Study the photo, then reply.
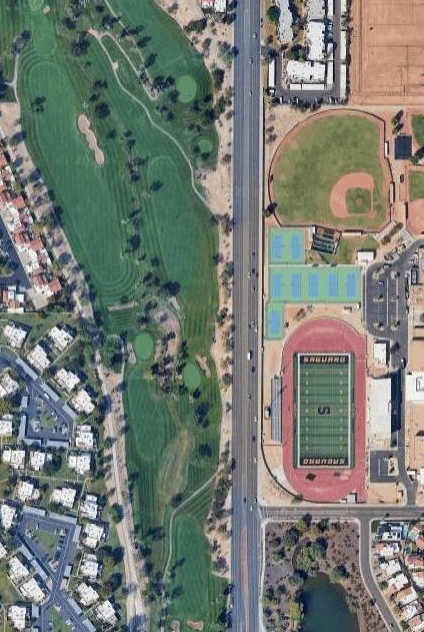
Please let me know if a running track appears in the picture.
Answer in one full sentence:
Yes, the photo shows a running track.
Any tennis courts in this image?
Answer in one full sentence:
Yes, you can see a tennis court in this photo.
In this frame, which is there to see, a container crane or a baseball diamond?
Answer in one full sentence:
I can see a baseball diamond in this picture.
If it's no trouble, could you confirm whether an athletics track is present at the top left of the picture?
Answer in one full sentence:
No, I see no athletics track at the top left of the picture.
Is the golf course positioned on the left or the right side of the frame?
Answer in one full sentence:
You can find the golf course on the left side of the picture.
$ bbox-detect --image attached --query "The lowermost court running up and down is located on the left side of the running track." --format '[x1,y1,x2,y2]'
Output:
[267,303,284,340]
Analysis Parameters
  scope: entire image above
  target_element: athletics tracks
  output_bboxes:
[283,317,366,502]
